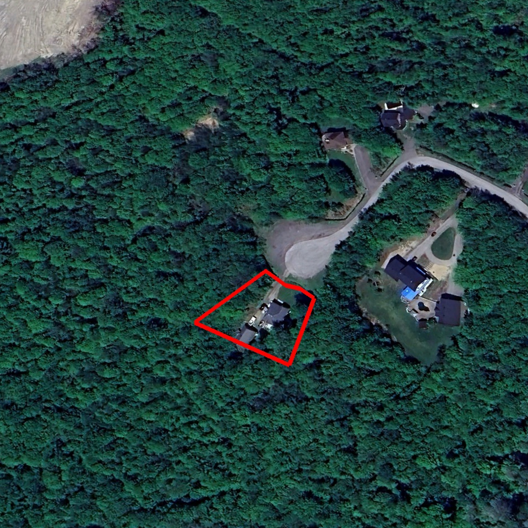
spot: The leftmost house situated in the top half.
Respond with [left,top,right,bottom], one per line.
[323,130,356,154]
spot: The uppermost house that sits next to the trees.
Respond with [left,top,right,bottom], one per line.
[381,101,417,131]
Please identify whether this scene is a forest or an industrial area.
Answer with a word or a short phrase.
forest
